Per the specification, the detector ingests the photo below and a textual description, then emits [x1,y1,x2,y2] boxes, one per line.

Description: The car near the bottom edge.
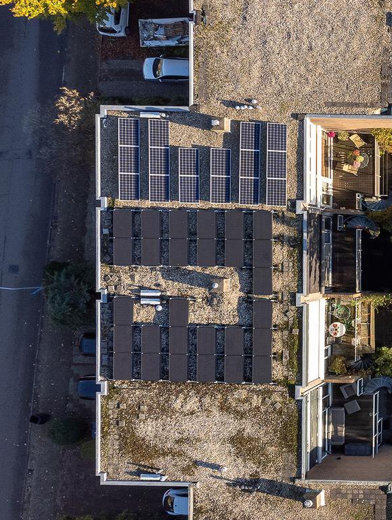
[161,485,189,517]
